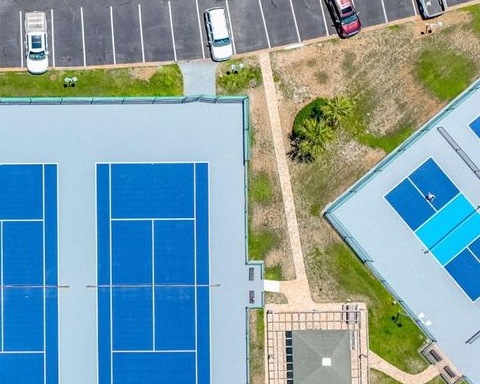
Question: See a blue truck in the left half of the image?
No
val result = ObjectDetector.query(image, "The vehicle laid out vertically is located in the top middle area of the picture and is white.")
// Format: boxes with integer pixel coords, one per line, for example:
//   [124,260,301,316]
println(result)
[203,8,233,62]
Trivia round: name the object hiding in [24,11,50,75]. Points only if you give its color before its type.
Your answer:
white truck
